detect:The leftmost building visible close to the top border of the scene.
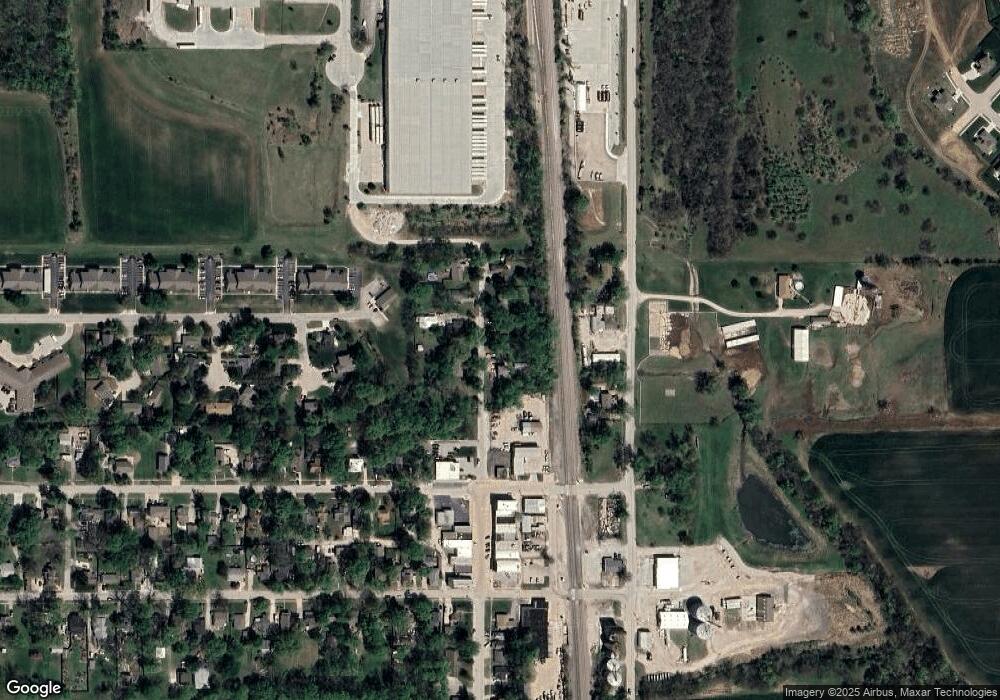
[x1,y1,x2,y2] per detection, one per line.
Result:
[388,0,473,195]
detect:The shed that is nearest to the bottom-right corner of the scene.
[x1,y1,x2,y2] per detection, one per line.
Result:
[757,596,775,622]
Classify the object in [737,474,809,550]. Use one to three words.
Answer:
pond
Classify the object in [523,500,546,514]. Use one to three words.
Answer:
shed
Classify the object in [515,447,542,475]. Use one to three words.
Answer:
building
